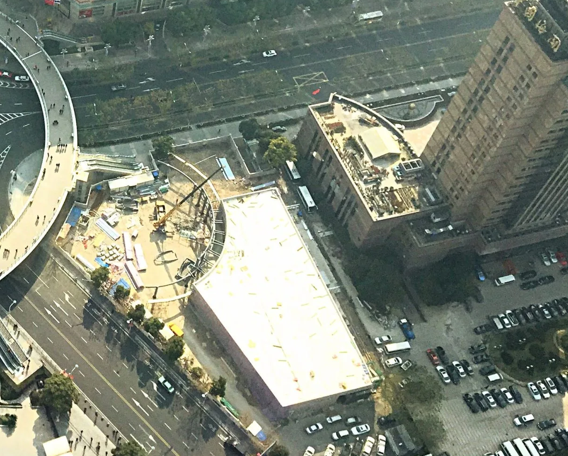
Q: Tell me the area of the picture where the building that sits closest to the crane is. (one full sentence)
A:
The building that sits closest to the crane appears toward the left of the photo.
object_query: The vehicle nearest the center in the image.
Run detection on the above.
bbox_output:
[295,189,316,215]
